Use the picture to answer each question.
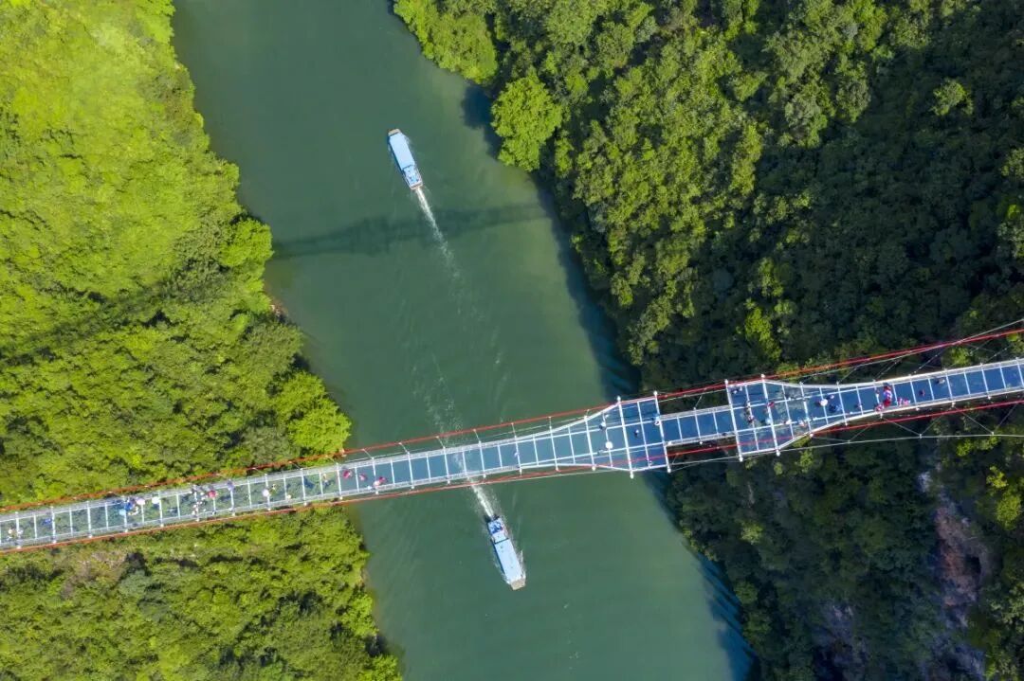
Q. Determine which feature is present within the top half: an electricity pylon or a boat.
boat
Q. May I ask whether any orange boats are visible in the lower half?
No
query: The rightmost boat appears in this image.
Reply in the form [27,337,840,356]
[484,514,526,590]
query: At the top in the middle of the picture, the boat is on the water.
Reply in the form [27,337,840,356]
[390,129,425,193]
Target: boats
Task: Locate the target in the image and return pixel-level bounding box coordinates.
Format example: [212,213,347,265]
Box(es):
[484,514,526,590]
[390,129,425,193]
